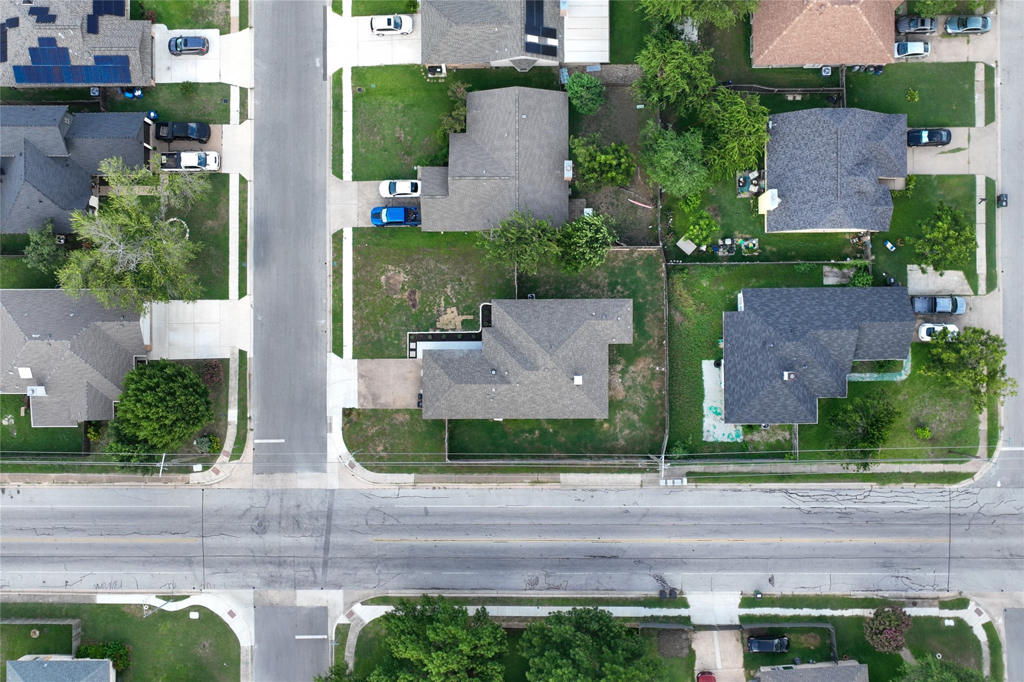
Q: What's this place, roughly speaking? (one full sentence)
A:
What you see here is a residential area.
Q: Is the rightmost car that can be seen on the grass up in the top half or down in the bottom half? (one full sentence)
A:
It is in the bottom half that the rightmost car that can be seen on the grass appears.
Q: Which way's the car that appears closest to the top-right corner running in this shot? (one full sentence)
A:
The car that appears closest to the top-right corner is oriented from side to side.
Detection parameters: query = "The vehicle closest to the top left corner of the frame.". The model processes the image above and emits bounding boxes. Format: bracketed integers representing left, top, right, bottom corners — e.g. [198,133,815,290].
[169,35,211,57]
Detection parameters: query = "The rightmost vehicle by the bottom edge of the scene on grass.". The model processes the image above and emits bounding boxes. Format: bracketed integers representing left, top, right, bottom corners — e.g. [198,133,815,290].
[746,633,788,655]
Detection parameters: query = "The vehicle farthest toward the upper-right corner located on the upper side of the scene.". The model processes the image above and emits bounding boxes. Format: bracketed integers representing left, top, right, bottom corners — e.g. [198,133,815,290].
[942,15,991,37]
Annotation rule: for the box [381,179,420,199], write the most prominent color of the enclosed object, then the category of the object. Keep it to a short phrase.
white car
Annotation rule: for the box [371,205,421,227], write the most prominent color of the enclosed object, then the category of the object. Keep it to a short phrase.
blue truck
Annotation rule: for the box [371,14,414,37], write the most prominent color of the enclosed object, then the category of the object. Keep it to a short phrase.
white car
